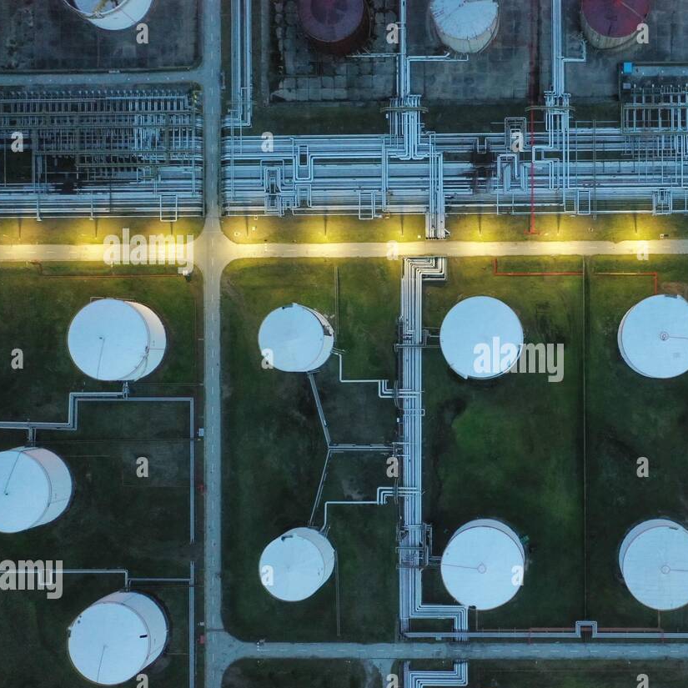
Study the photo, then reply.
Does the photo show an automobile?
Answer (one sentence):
No, no automobile is visible in the view.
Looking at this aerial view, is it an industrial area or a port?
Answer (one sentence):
This image shows an industrial area.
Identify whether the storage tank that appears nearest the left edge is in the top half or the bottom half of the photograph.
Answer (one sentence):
The storage tank that appears nearest the left edge sits in the bottom half of the picture.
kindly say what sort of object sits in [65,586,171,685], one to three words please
storage tank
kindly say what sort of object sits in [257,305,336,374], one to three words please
storage tank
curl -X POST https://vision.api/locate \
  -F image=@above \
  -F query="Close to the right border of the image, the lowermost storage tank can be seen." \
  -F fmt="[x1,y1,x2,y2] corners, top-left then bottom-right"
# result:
[616,517,688,610]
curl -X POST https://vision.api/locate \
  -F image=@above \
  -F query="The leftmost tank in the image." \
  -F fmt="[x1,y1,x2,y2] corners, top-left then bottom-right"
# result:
[0,442,76,532]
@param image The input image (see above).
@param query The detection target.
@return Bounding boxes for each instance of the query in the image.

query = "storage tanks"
[439,295,525,380]
[440,517,526,610]
[431,0,502,55]
[577,0,651,51]
[298,0,373,56]
[0,442,76,532]
[616,517,688,610]
[67,298,168,383]
[258,524,337,601]
[65,586,171,685]
[257,305,336,374]
[615,294,688,379]
[64,0,155,33]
